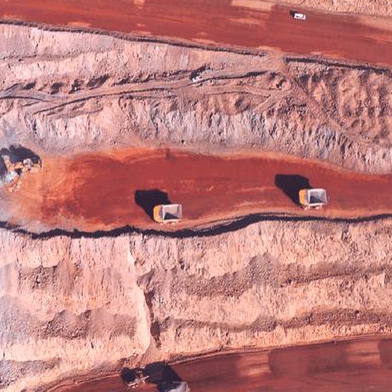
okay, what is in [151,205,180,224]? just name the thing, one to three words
vehicle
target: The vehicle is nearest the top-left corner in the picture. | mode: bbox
[3,157,40,178]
